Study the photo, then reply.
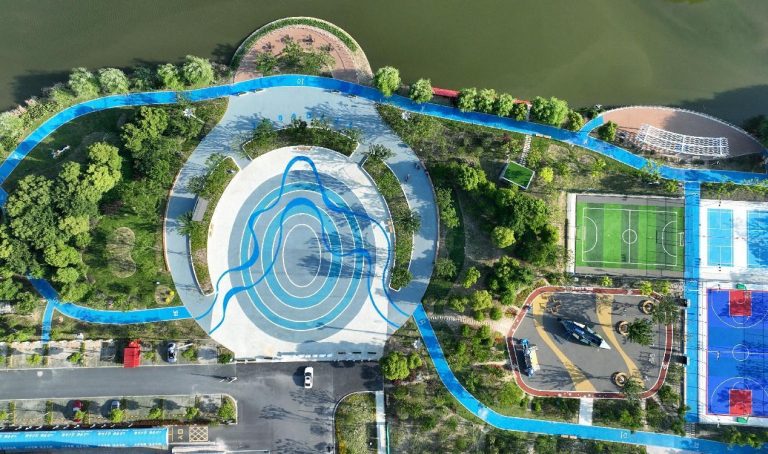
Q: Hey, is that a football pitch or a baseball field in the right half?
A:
football pitch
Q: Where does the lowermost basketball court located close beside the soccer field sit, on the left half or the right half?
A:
right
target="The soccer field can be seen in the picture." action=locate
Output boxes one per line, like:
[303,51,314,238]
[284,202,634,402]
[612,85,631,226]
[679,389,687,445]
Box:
[577,203,685,269]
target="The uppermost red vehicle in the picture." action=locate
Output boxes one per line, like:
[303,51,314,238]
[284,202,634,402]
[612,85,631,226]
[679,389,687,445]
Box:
[124,341,140,371]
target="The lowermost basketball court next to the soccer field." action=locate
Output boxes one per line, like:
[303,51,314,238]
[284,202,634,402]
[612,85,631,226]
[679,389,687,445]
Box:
[705,289,768,416]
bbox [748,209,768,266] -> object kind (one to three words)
sports court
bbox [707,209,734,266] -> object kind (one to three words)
sports court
